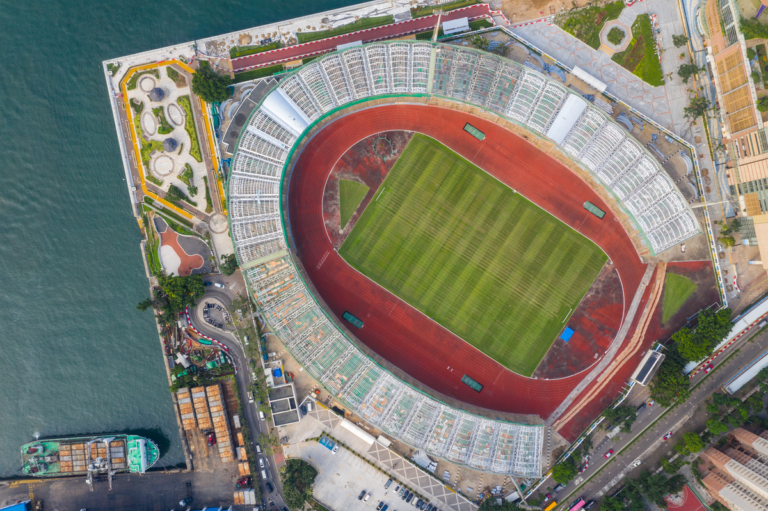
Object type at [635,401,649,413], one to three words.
vehicle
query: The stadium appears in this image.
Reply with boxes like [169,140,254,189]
[226,40,703,479]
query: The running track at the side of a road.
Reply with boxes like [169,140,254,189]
[287,104,724,443]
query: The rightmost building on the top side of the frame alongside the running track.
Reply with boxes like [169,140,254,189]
[698,0,768,277]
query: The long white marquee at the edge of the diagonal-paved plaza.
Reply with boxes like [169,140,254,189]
[340,416,375,444]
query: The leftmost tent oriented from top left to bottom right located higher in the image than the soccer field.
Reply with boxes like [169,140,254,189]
[569,65,607,95]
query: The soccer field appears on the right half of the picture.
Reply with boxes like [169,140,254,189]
[339,135,610,375]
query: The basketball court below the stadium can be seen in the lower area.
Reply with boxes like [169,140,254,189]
[663,482,712,511]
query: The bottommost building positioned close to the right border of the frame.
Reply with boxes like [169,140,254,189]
[701,410,768,511]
